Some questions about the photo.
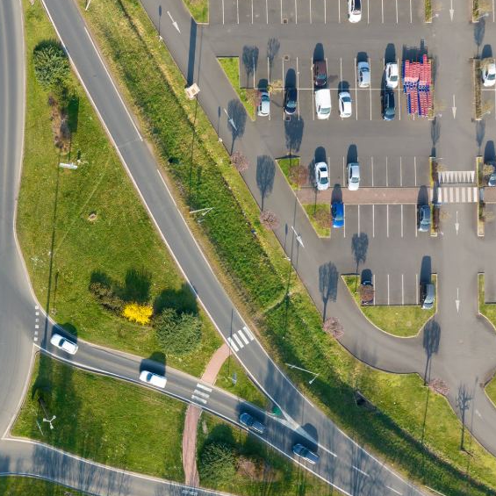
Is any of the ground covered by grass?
Yes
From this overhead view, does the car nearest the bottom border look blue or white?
blue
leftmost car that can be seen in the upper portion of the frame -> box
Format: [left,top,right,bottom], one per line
[257,92,270,116]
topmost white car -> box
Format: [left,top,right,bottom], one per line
[347,0,362,22]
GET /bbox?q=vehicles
[347,0,362,22]
[138,369,168,388]
[416,205,432,232]
[330,203,345,228]
[315,89,332,119]
[337,92,352,117]
[312,62,327,87]
[291,443,320,465]
[257,92,270,116]
[420,282,439,310]
[237,411,266,433]
[346,163,360,190]
[356,62,370,88]
[384,62,400,90]
[314,163,329,190]
[51,334,77,354]
[283,89,298,115]
[481,63,496,88]
[381,92,397,120]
